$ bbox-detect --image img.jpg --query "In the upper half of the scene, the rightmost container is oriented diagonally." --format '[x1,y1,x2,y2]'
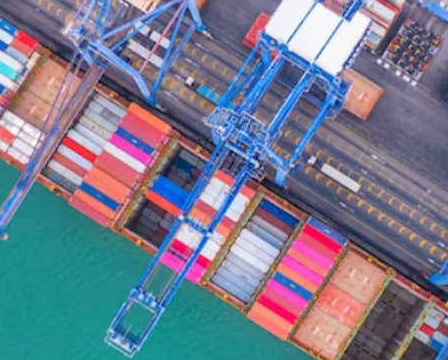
[419,0,448,26]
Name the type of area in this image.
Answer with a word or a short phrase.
port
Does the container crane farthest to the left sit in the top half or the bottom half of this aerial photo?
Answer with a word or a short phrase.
top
